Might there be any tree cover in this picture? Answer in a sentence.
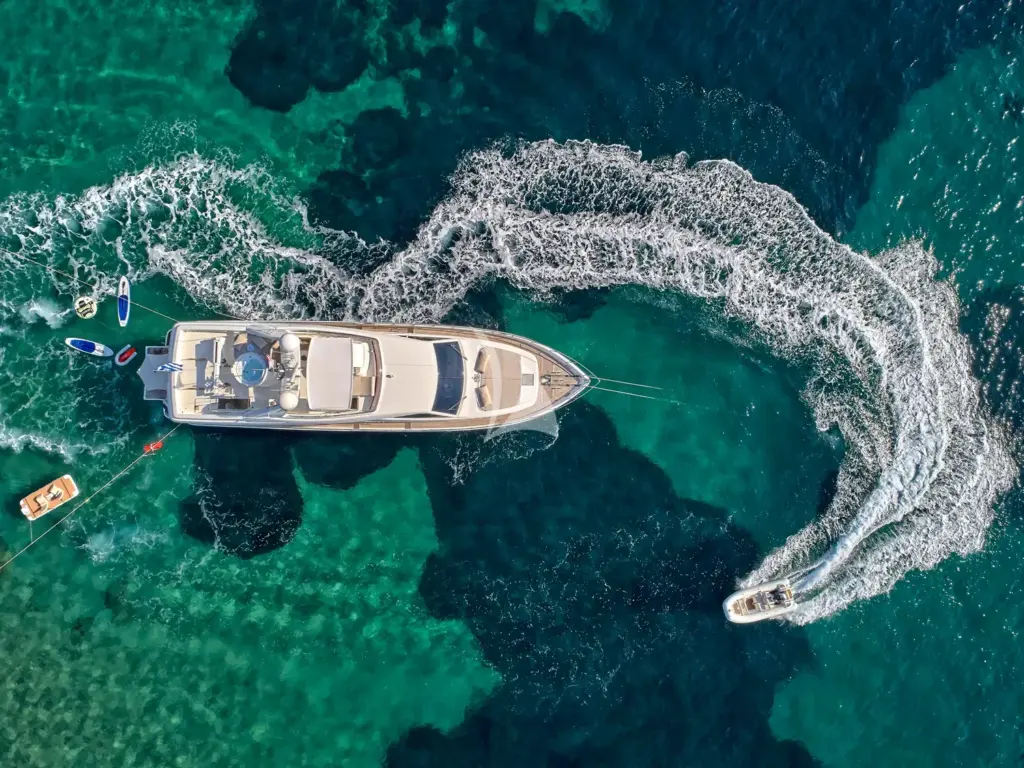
No, the picture contains no tree cover.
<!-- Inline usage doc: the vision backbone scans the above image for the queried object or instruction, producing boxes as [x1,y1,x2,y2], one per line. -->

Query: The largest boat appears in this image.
[136,321,600,432]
